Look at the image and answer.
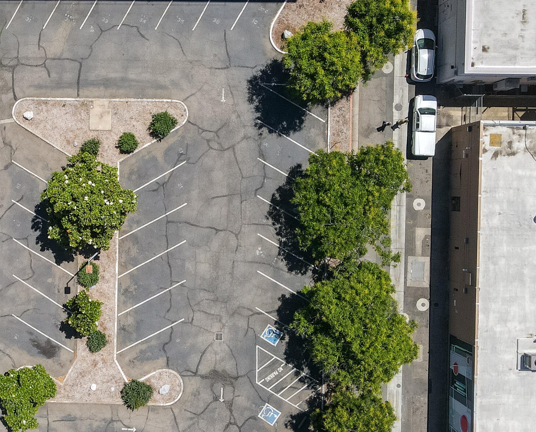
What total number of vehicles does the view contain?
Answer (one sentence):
The picture shows 2 vehicles.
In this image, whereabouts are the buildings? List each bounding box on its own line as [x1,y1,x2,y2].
[446,121,536,432]
[435,0,536,89]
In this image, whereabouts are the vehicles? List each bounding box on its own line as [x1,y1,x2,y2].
[412,94,442,159]
[412,29,440,83]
